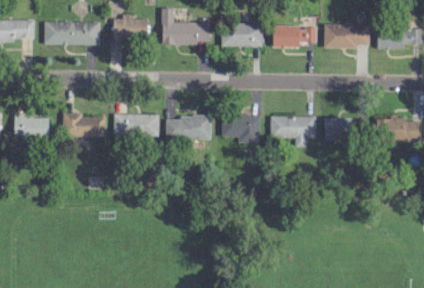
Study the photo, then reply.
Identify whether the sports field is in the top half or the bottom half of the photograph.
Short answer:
bottom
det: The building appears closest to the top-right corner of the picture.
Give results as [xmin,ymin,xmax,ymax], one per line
[378,28,422,49]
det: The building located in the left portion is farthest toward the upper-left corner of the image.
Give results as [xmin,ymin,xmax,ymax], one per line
[0,19,35,44]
